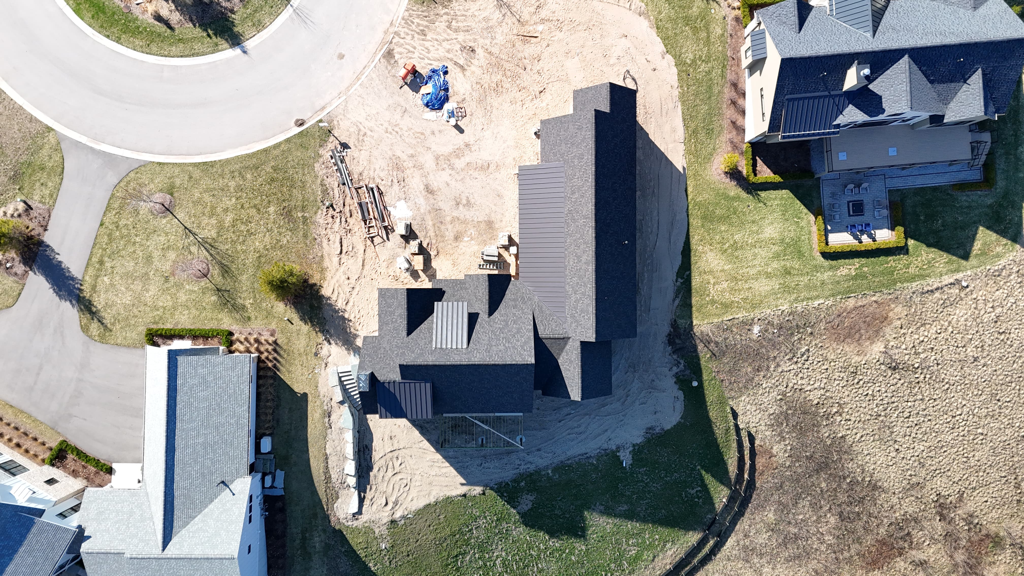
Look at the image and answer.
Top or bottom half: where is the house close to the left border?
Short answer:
bottom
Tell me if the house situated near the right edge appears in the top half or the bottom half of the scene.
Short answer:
top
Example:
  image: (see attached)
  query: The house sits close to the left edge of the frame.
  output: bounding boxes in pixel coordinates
[0,342,265,576]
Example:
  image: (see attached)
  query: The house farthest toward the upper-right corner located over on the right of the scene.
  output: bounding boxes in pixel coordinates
[742,0,1024,174]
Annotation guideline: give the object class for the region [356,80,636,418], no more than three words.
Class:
house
